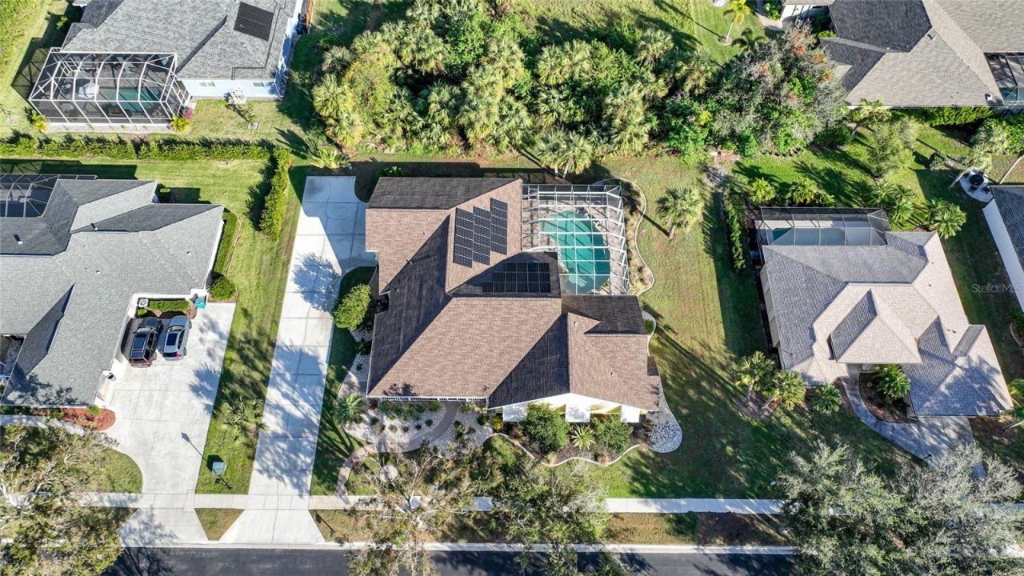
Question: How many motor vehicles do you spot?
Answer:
2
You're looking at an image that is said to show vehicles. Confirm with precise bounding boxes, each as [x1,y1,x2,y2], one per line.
[157,315,195,365]
[128,319,165,371]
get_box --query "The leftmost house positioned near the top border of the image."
[61,0,303,97]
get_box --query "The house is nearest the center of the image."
[365,177,661,414]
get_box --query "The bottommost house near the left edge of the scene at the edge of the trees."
[0,179,229,413]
